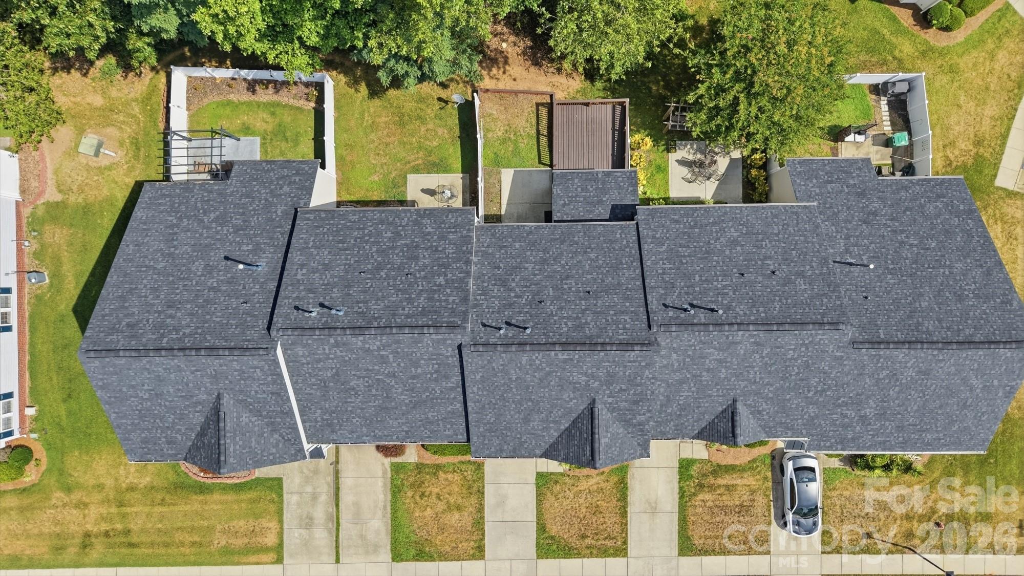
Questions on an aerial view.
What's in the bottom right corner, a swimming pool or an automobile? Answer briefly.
automobile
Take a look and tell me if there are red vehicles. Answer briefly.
No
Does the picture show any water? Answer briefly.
No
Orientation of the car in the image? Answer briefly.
vertically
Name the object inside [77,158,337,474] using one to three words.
house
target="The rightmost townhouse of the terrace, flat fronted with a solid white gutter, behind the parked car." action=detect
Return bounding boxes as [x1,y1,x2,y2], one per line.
[767,156,1024,455]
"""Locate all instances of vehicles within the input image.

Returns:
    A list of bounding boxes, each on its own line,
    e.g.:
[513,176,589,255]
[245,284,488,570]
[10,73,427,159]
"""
[782,450,827,536]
